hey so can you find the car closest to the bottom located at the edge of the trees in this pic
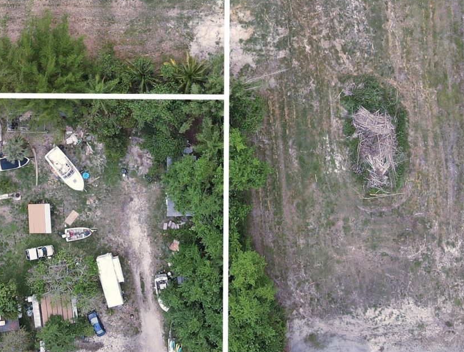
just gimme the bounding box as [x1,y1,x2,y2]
[87,309,106,337]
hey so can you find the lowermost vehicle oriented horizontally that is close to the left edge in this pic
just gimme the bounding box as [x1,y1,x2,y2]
[22,244,57,260]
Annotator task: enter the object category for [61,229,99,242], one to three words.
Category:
boat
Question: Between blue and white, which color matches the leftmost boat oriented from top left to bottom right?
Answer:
white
